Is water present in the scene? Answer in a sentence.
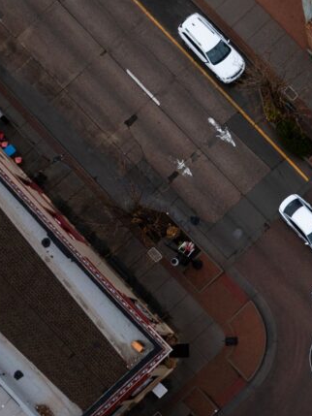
No, the picture contains no water.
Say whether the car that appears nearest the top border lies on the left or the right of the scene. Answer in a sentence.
The car that appears nearest the top border sits on the right side.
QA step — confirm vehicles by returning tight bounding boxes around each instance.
[280,192,312,250]
[178,12,247,86]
